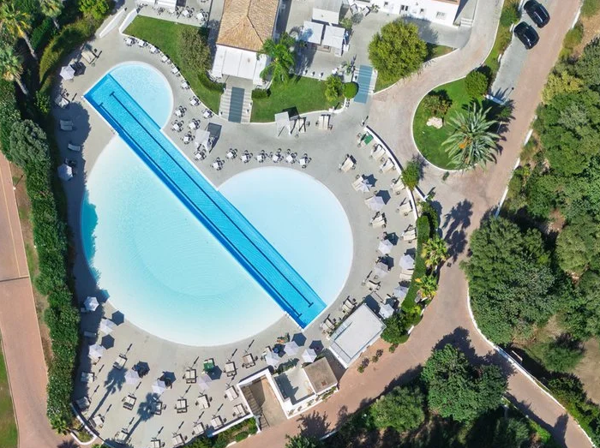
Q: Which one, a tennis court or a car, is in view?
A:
car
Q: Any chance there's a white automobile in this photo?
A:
No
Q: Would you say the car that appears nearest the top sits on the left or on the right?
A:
right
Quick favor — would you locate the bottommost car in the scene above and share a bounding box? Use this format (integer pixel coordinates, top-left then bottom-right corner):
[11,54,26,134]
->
[514,22,539,51]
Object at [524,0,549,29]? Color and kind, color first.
black car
